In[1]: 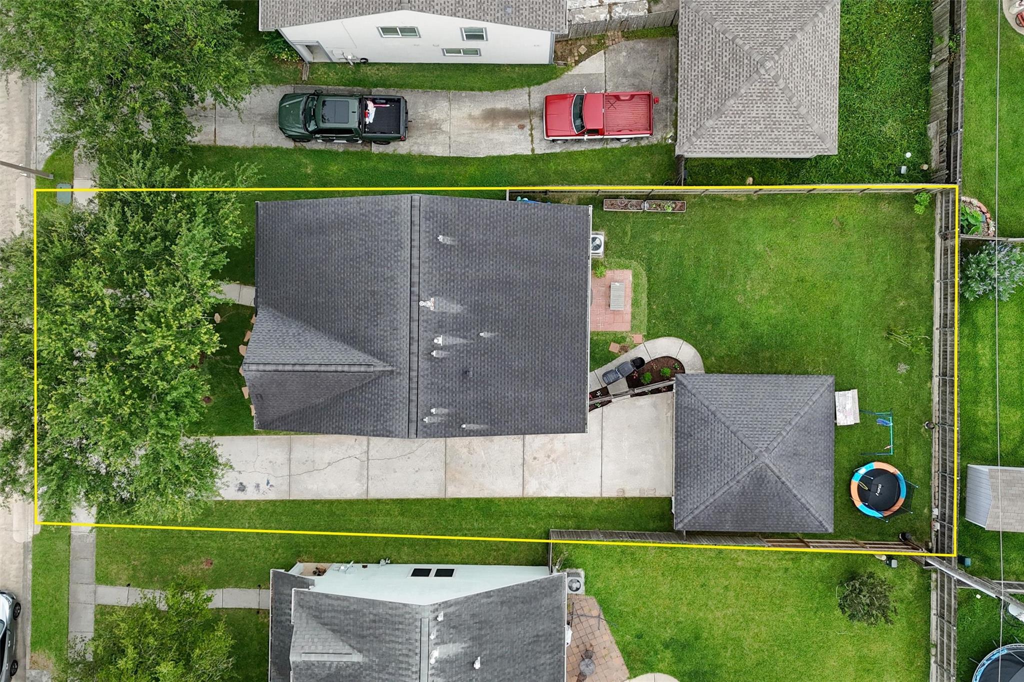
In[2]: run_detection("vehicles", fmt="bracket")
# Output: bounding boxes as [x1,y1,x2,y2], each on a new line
[540,85,655,142]
[278,85,414,144]
[0,590,25,682]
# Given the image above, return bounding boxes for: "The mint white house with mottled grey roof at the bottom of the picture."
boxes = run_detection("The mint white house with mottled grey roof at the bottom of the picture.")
[267,559,570,682]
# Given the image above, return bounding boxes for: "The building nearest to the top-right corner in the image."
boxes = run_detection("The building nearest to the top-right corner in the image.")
[674,0,841,159]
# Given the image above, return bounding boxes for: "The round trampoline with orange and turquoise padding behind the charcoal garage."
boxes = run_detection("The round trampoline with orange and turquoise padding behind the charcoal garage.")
[847,461,919,525]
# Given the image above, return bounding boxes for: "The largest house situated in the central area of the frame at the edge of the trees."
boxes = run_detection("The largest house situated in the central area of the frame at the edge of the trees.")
[242,194,595,439]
